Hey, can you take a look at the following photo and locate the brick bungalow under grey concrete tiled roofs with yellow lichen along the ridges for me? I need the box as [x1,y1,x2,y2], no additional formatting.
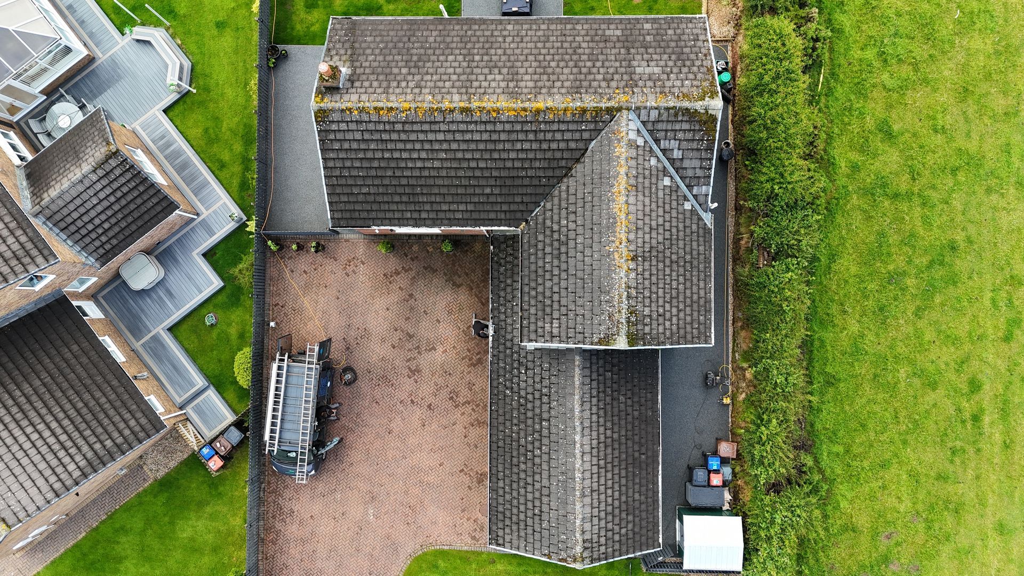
[312,4,724,570]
